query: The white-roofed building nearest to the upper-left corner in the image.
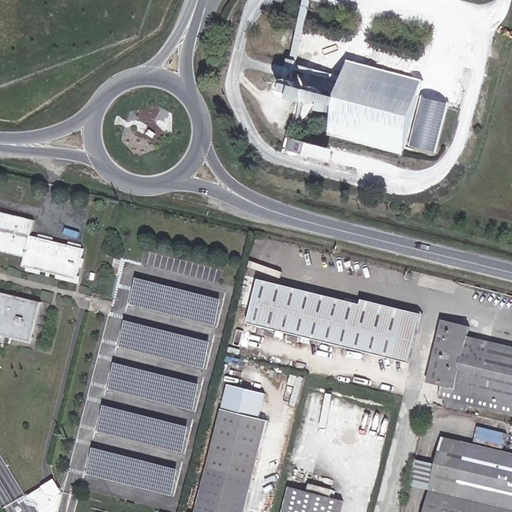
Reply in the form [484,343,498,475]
[0,211,38,256]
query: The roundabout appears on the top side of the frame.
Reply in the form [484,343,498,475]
[82,66,212,196]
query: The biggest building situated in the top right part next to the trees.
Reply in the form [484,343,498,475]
[327,60,422,154]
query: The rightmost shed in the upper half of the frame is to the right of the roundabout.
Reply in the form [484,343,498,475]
[406,94,448,155]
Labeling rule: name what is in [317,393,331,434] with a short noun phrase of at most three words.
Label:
vehicle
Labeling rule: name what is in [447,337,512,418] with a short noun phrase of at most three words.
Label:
building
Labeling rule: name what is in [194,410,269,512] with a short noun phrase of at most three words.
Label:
shed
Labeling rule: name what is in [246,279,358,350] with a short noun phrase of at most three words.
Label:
building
